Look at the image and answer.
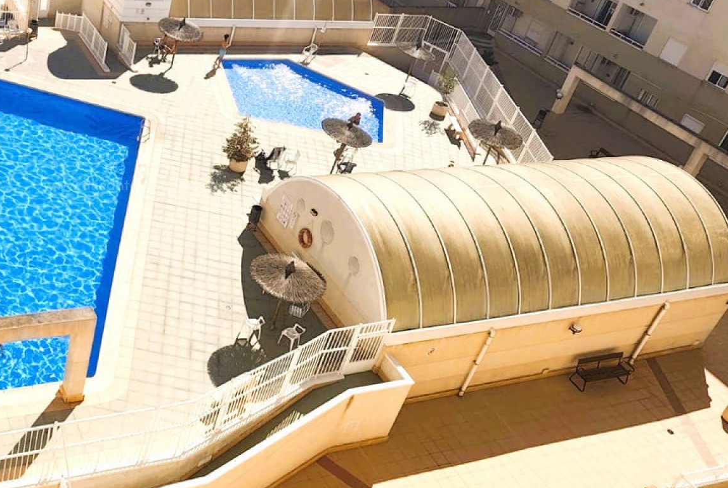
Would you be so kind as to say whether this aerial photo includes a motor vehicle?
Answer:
No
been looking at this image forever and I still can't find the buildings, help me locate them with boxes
[384,0,728,193]
[253,150,728,403]
[87,0,378,51]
